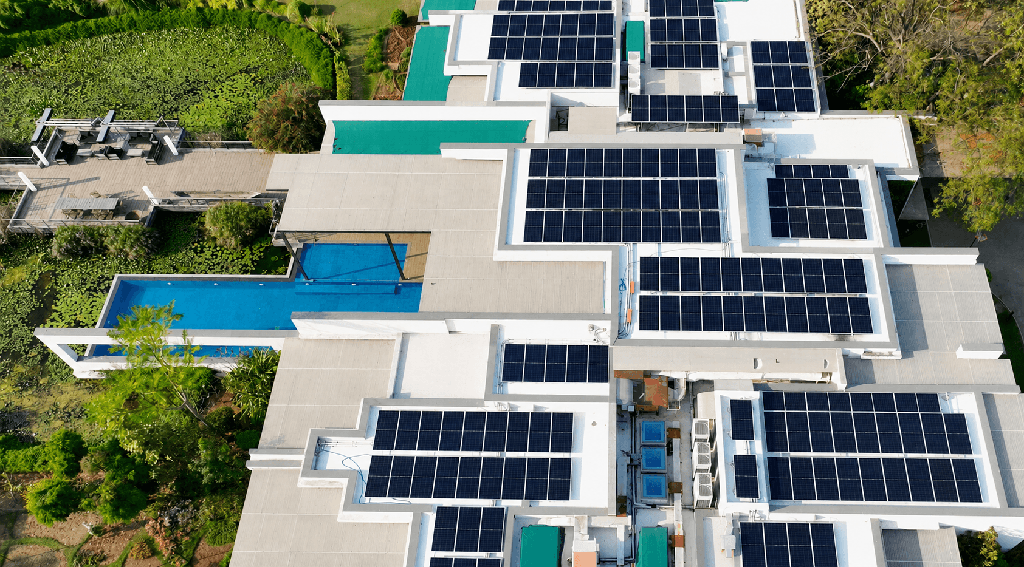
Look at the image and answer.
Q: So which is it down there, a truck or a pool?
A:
pool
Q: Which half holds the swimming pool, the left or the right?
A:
left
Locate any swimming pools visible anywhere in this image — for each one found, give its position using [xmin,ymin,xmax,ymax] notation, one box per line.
[88,240,424,369]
